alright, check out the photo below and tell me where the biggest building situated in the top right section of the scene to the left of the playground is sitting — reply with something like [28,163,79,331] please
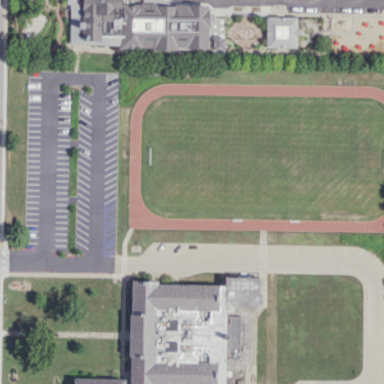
[268,16,300,50]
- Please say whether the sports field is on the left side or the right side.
right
